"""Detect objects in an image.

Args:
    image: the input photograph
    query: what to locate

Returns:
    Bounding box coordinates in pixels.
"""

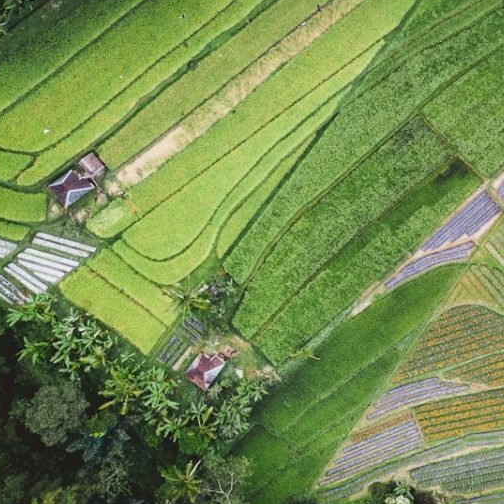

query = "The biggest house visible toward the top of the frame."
[47,169,97,210]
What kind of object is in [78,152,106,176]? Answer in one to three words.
shed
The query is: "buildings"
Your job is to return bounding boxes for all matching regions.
[78,152,106,176]
[47,169,97,210]
[184,352,227,392]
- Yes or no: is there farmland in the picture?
Yes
